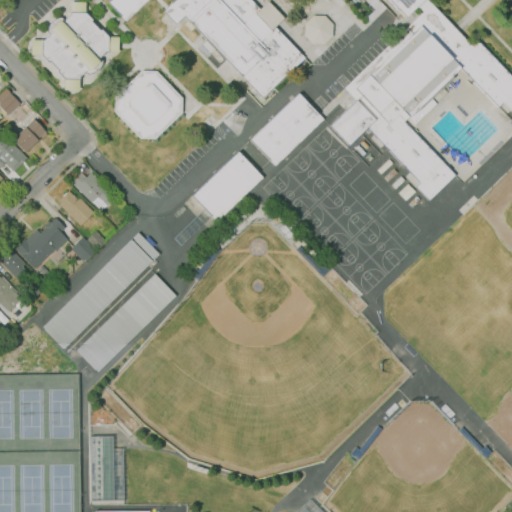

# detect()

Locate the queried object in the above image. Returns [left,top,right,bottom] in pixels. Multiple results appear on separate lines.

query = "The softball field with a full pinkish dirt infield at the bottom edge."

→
[326,402,512,512]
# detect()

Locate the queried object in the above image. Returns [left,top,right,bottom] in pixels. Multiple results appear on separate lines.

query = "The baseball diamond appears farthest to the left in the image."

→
[108,222,410,476]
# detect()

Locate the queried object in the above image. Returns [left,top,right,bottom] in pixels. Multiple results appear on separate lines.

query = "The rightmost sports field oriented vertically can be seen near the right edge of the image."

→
[383,168,512,448]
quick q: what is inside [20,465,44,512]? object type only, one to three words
tennis court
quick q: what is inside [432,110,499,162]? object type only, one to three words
swimming pool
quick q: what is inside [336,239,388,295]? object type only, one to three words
basketball court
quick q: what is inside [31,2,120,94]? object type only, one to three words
building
